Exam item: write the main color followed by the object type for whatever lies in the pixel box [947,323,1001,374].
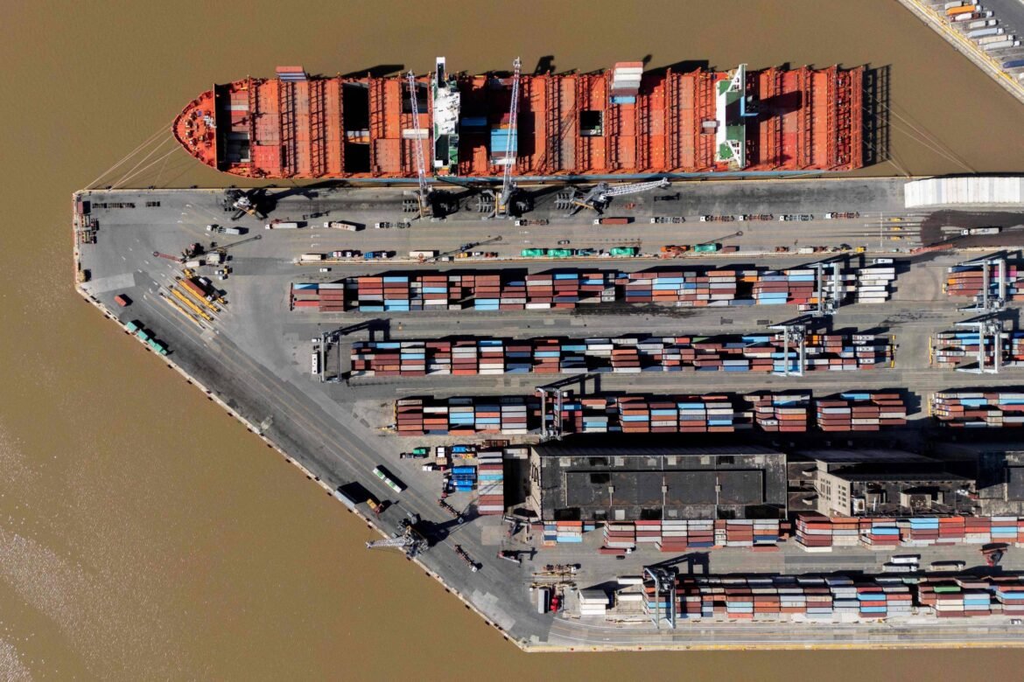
white container crane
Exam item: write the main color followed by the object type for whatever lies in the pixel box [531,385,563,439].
gray container crane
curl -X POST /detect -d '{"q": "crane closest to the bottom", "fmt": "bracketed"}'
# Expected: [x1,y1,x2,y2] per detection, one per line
[639,567,677,630]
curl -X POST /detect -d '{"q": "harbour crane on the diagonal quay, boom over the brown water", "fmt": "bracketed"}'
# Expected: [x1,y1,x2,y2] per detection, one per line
[363,514,432,557]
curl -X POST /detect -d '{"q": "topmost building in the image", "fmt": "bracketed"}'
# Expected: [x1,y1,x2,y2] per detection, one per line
[907,177,1024,209]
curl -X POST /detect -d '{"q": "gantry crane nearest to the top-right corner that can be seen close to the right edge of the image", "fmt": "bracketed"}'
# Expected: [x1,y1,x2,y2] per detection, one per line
[952,260,1004,314]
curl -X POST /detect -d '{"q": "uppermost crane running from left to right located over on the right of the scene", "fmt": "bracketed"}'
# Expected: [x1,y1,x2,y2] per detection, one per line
[565,181,670,215]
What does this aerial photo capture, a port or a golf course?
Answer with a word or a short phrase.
port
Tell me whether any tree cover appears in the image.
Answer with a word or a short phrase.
No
